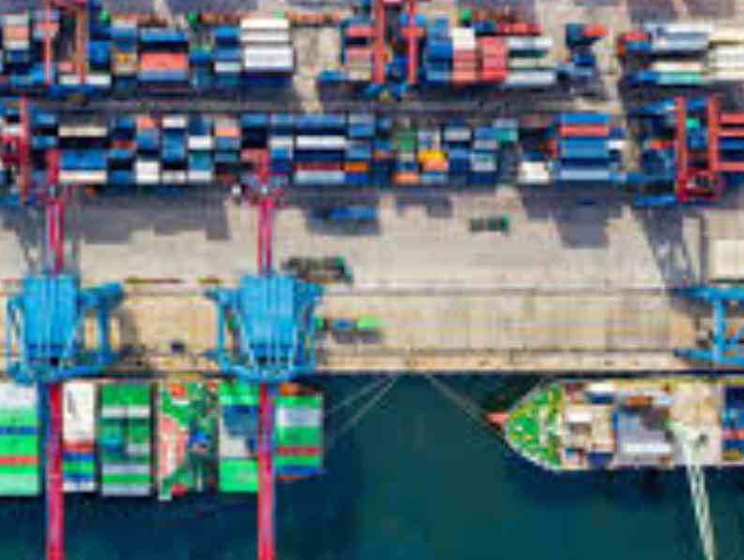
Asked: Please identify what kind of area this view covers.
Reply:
port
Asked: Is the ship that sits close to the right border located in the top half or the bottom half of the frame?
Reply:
bottom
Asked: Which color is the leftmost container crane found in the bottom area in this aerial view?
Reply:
blue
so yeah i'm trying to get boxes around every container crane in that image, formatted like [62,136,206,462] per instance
[8,151,125,560]
[636,94,720,208]
[43,0,101,96]
[355,0,419,95]
[202,151,316,560]
[679,289,744,369]
[0,95,47,209]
